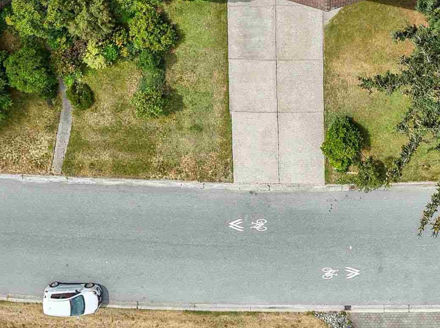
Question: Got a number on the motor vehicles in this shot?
1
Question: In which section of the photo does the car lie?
bottom left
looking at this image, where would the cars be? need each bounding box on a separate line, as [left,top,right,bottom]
[39,282,101,316]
